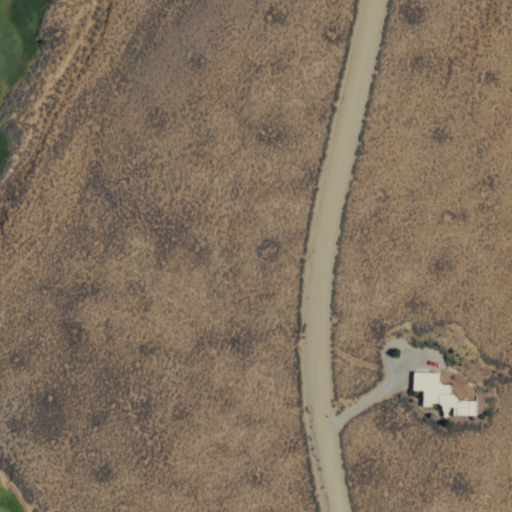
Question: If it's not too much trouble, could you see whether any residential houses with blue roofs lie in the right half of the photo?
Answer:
No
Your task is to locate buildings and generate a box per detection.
[414,372,478,418]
